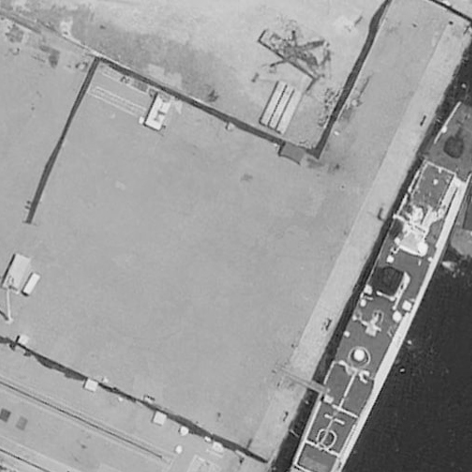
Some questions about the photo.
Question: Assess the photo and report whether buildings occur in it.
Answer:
Yes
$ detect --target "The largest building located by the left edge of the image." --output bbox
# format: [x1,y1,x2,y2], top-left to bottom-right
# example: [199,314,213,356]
[3,253,33,295]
